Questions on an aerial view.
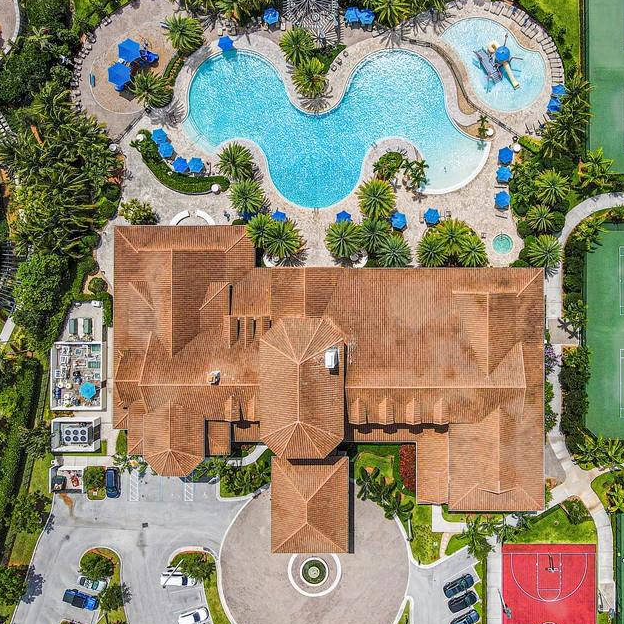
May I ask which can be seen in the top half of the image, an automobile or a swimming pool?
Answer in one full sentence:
The feature located in the top half of the image is a swimming pool.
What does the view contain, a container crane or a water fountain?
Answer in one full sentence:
This aerial view contains a water fountain.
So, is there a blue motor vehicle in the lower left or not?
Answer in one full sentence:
Yes, a blue motor vehicle shows up in the lower left.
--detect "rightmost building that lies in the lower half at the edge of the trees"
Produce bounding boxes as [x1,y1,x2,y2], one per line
[114,226,544,552]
